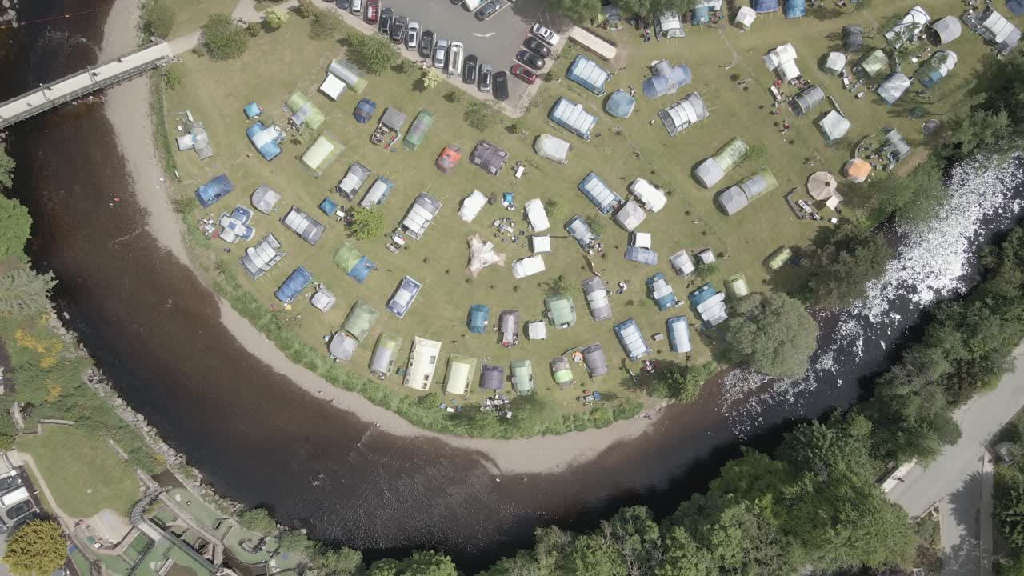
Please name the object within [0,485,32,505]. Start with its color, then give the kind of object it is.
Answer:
white vehicle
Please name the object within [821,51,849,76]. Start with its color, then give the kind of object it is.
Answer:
white tent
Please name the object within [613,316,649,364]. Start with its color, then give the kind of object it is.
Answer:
white tent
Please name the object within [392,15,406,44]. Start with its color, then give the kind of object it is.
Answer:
gray car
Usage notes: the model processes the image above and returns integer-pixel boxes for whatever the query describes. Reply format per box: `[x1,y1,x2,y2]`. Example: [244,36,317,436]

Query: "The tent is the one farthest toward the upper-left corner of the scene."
[179,121,215,161]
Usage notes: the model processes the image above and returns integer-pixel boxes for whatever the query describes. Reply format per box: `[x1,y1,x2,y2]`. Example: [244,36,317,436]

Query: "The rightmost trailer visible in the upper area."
[567,24,615,61]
